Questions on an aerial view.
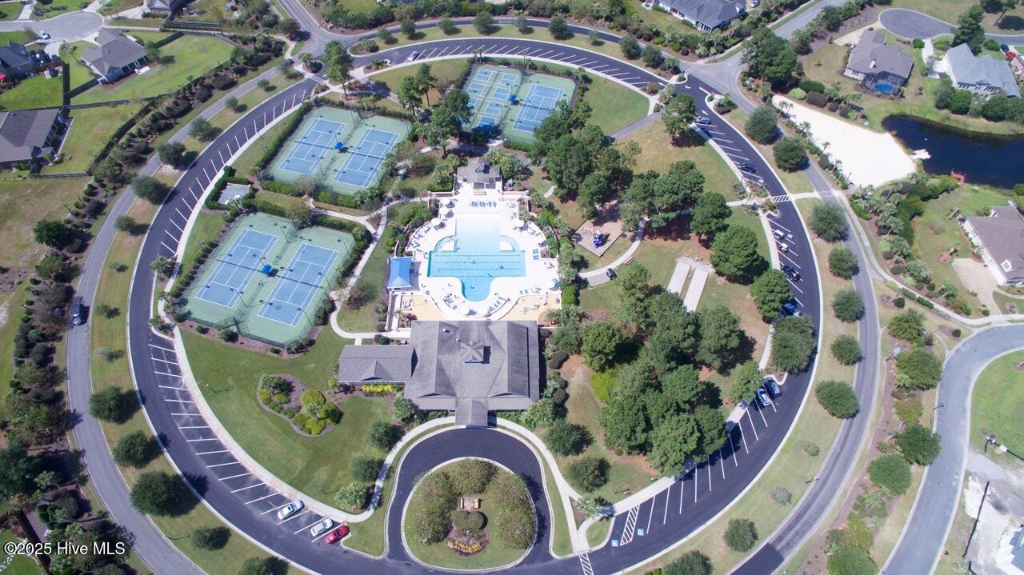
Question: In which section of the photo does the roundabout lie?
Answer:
bottom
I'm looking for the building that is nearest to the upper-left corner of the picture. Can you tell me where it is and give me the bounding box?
[0,43,43,87]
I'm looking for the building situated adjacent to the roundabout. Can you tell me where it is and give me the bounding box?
[337,318,540,431]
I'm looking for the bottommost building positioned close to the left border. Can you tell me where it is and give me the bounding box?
[0,109,61,170]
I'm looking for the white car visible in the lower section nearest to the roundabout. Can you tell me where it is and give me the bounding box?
[308,516,333,537]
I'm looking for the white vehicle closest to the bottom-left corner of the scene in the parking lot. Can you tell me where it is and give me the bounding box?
[277,499,301,519]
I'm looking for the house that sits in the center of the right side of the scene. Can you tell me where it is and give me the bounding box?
[964,205,1024,286]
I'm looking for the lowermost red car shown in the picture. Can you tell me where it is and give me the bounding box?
[323,524,348,544]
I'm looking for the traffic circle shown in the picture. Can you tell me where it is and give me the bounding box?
[383,427,555,575]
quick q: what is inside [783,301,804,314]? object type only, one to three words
vehicle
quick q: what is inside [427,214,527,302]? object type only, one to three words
swimming pool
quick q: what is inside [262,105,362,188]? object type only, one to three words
tennis court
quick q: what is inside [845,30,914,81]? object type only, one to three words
house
